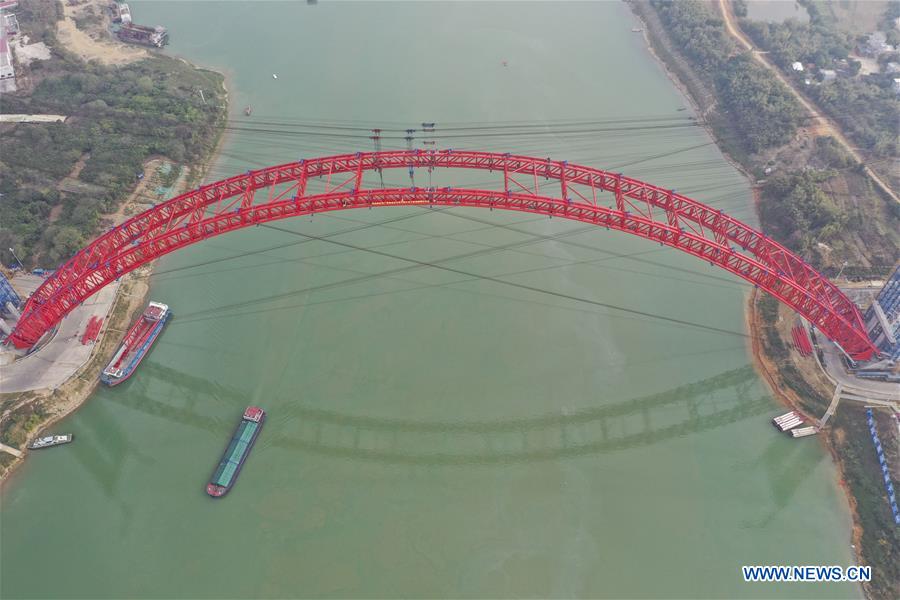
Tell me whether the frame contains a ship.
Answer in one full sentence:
Yes, the picture does show a ship.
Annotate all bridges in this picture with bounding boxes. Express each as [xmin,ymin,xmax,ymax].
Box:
[0,148,888,365]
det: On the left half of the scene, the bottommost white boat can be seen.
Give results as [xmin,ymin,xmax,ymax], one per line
[27,433,74,450]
